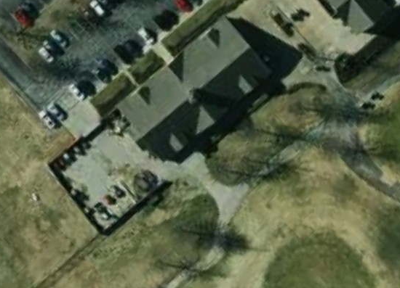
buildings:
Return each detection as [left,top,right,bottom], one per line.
[110,15,273,167]
[318,0,400,36]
